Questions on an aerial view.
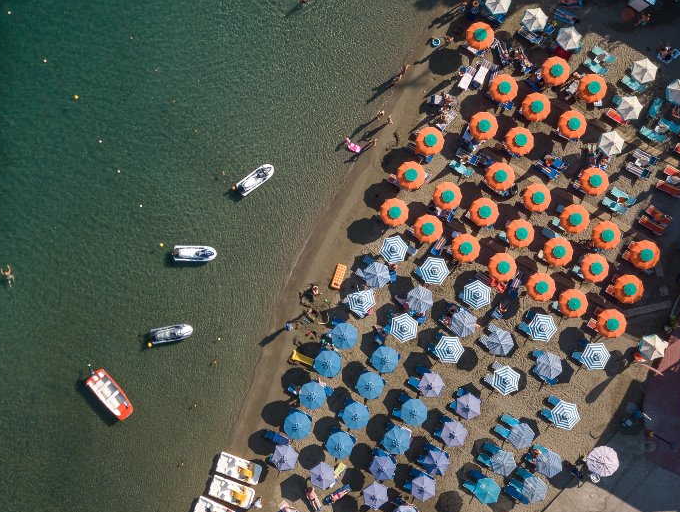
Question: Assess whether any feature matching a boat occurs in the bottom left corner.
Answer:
Yes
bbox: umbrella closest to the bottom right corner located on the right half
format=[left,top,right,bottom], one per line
[586,443,620,478]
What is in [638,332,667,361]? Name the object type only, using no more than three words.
umbrella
